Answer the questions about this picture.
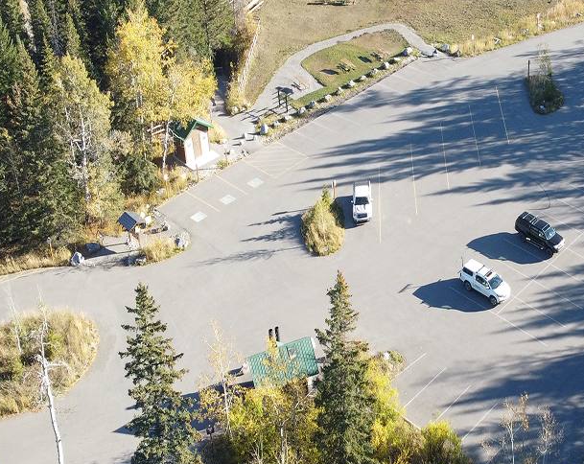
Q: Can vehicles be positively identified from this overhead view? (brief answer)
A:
Yes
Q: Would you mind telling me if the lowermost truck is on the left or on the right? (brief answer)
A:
right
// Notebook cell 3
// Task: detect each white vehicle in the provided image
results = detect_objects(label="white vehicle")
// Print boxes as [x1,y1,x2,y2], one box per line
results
[349,185,372,218]
[459,263,514,305]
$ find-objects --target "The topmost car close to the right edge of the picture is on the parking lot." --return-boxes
[519,217,567,253]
